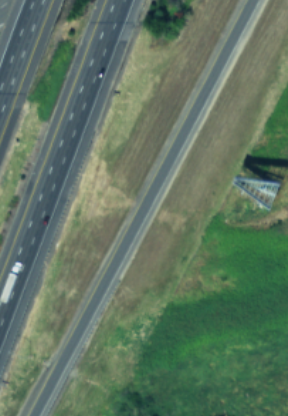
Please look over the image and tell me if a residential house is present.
No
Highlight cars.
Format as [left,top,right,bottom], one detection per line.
[98,68,106,78]
[43,214,50,226]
